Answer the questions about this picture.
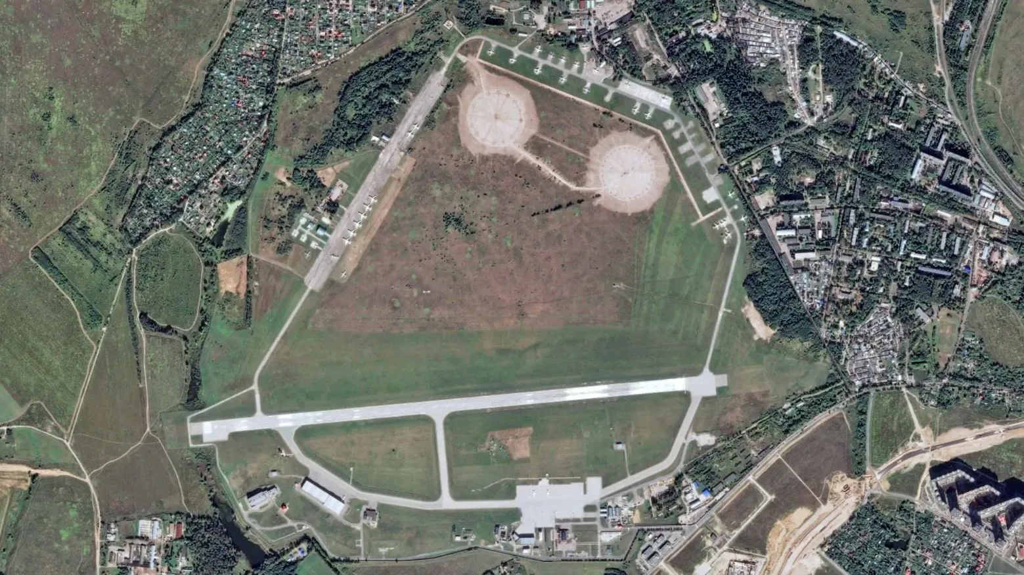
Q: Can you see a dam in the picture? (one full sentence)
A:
No, I can't see a single dam in this photo.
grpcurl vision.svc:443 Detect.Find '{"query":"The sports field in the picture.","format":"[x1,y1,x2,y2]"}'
[938,309,960,371]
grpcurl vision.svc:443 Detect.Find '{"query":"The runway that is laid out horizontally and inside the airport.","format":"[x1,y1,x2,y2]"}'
[203,377,686,441]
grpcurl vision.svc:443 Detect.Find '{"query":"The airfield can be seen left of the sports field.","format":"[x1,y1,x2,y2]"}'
[188,24,741,559]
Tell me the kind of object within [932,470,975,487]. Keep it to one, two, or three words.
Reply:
building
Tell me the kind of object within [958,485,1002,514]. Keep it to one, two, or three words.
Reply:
building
